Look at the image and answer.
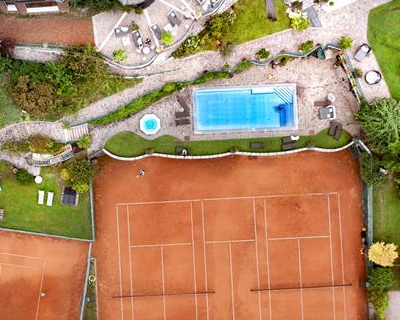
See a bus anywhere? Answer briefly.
No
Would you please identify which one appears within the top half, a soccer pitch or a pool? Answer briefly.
pool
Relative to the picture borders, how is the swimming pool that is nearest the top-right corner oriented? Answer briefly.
from left to right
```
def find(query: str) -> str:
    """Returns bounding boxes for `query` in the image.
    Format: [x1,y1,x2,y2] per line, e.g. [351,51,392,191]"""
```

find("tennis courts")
[199,155,260,320]
[94,153,211,320]
[0,229,92,320]
[251,144,368,320]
